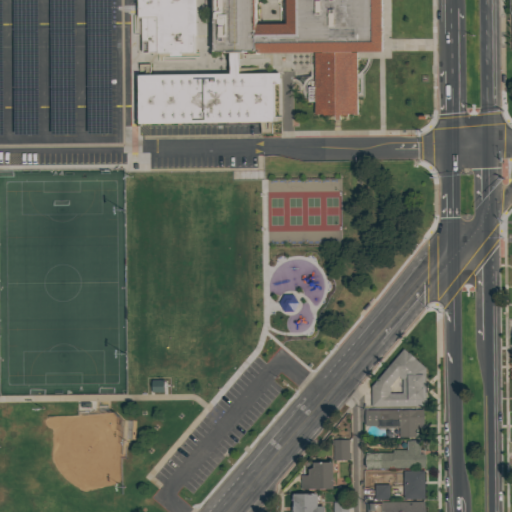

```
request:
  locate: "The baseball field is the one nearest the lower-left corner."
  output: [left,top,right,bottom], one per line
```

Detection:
[0,402,131,512]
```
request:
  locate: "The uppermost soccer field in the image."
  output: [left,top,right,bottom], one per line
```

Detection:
[0,170,126,396]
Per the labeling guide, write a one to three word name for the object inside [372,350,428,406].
building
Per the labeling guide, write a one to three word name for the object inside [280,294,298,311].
gazebo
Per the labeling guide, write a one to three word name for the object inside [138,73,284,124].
building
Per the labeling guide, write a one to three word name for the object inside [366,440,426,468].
house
